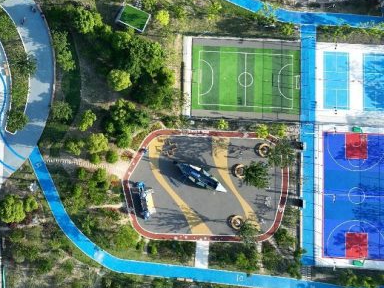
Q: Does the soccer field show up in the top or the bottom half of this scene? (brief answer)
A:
top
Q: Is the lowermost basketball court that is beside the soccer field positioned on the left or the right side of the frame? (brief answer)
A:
right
